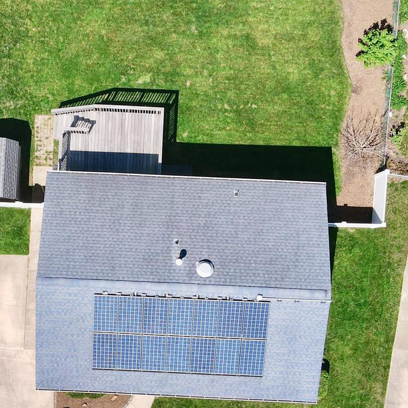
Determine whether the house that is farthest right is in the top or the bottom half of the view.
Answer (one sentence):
The house that is farthest right is in the bottom half of the image.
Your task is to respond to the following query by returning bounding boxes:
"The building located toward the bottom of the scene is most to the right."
[36,170,331,404]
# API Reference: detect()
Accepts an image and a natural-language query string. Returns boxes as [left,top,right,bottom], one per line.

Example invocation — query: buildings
[0,136,21,200]
[36,170,331,404]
